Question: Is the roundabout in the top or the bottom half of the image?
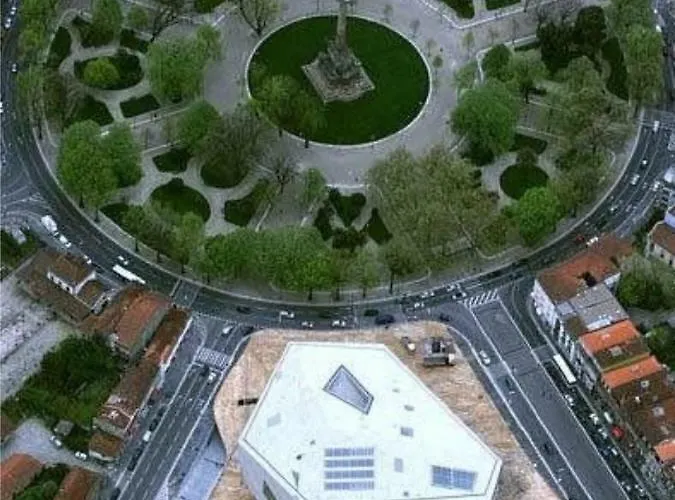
top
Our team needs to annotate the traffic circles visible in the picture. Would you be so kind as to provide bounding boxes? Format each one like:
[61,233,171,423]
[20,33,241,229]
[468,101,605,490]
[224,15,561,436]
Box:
[0,0,675,333]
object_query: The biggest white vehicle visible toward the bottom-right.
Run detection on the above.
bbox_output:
[551,350,580,387]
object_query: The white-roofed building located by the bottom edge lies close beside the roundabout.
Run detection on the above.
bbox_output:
[240,340,502,500]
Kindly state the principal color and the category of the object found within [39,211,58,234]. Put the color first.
white vehicle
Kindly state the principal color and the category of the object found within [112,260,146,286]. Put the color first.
white bus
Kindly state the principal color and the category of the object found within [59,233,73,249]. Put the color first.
white vehicle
